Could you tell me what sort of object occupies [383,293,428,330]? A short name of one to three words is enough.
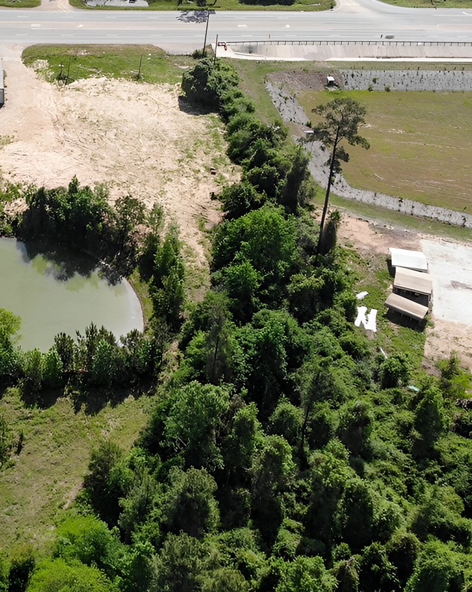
shed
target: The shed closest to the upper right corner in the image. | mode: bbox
[386,248,427,277]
